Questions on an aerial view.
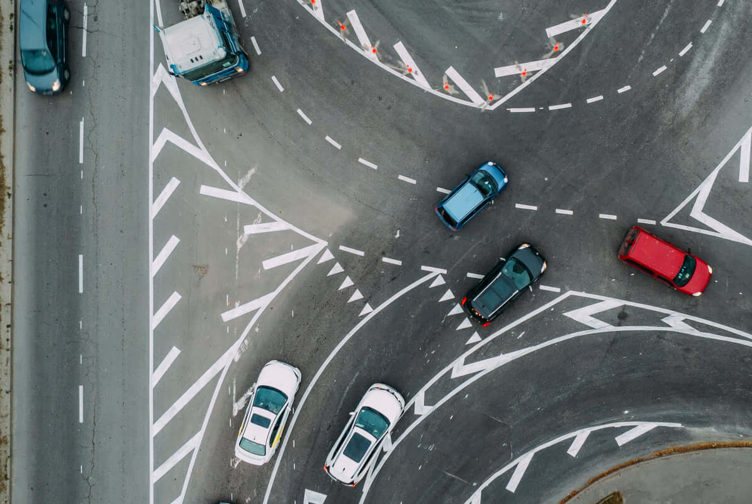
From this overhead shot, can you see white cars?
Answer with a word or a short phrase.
Yes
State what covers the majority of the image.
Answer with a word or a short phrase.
paved ground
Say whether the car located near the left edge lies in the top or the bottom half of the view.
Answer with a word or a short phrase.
top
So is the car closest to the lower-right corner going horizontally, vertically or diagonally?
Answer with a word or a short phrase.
diagonally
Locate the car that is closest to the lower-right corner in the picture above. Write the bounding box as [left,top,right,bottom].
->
[462,241,548,327]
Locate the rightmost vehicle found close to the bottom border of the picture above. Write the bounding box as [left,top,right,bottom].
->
[324,383,404,486]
